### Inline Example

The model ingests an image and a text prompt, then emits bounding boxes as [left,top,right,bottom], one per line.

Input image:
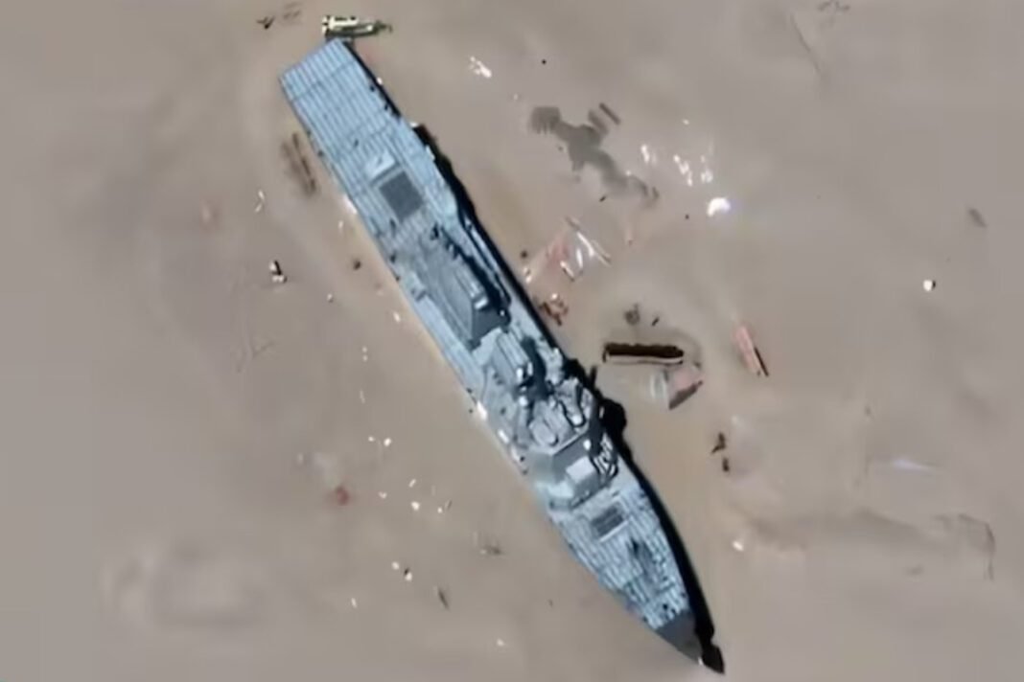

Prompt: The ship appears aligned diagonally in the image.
[280,38,704,665]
